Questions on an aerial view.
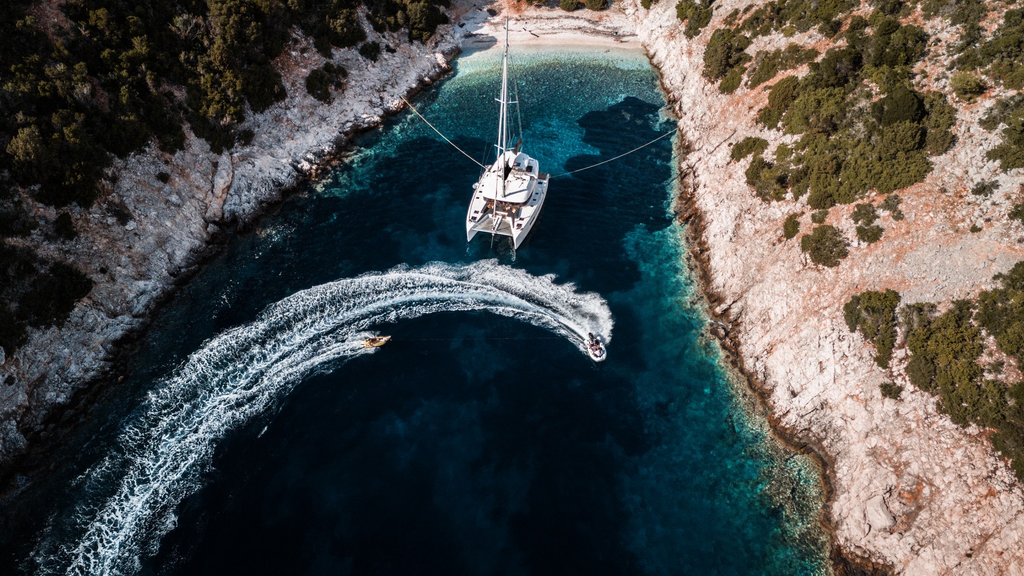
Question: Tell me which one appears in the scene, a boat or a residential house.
boat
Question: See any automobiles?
No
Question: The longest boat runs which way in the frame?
from top to bottom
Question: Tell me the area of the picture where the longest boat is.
top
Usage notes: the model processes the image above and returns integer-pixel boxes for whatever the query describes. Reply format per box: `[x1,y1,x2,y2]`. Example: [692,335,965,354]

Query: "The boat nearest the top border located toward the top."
[468,17,550,287]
